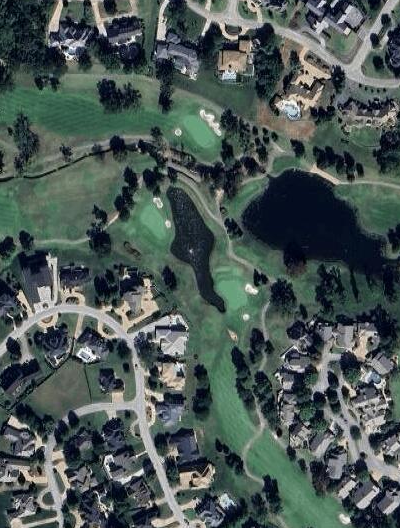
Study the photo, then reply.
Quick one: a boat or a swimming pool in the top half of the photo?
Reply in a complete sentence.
What appears in the top half of the photo is a swimming pool.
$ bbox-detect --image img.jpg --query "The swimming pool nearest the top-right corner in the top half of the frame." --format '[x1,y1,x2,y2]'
[280,99,302,122]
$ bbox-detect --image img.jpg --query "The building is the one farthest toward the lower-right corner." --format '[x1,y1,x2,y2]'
[375,487,400,520]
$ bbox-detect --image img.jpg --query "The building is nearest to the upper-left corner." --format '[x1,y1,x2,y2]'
[50,15,93,50]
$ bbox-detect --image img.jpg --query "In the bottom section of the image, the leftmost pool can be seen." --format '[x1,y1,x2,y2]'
[78,348,97,365]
